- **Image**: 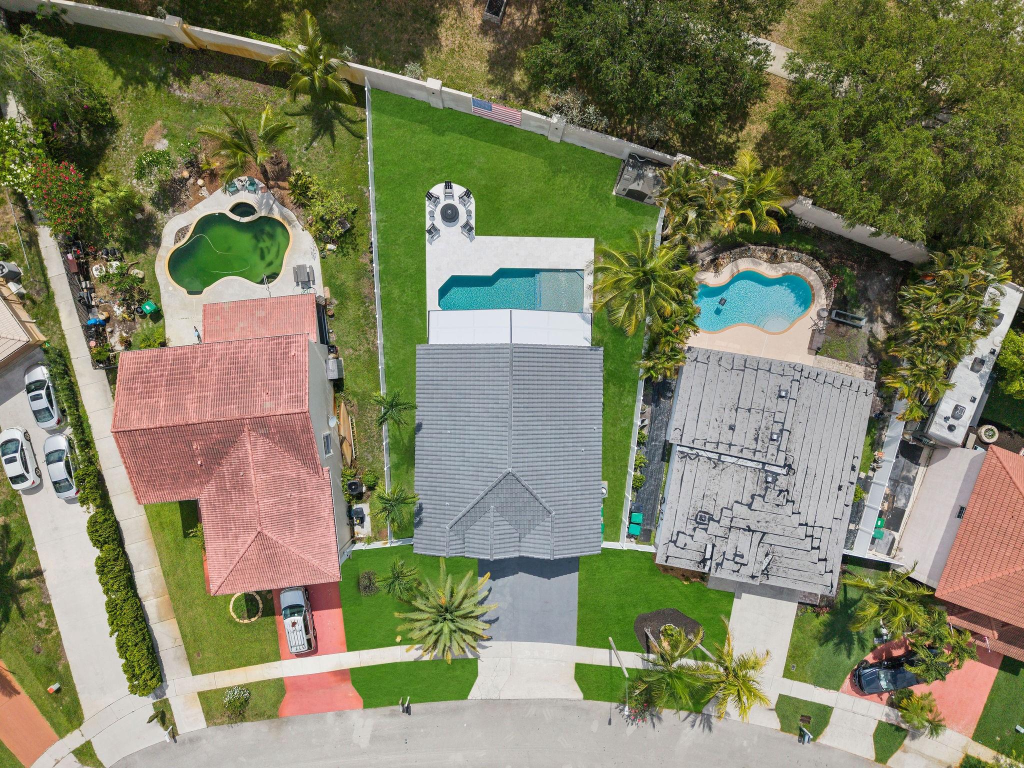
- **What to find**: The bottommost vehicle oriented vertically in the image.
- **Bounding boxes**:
[276,585,315,659]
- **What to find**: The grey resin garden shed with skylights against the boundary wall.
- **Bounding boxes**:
[608,158,661,209]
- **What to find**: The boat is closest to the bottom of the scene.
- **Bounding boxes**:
[339,403,353,465]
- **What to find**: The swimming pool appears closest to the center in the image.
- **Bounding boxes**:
[439,268,584,312]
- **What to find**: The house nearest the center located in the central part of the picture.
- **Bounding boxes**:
[413,343,604,561]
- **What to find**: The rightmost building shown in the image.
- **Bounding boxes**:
[893,444,1024,660]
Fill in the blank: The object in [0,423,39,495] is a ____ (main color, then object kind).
white car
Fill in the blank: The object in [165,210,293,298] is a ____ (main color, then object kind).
green swimming pool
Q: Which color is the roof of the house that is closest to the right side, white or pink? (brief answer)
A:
pink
